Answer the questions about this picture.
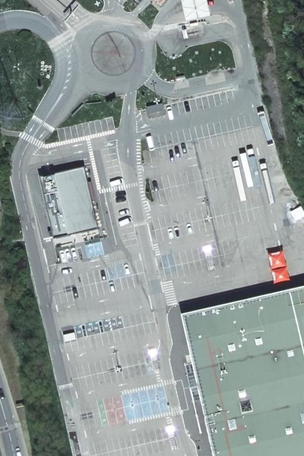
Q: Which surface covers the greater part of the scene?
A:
paved ground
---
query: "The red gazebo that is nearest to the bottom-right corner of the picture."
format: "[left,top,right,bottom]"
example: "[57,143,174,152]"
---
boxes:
[272,266,290,283]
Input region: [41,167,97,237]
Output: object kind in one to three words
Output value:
building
